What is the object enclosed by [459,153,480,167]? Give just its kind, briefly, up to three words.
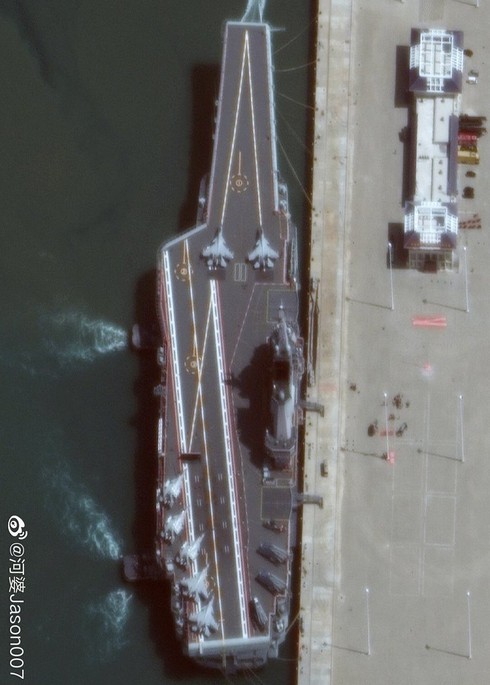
vehicle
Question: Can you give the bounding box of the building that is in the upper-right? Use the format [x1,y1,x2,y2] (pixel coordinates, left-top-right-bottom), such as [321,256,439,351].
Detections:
[404,28,464,278]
